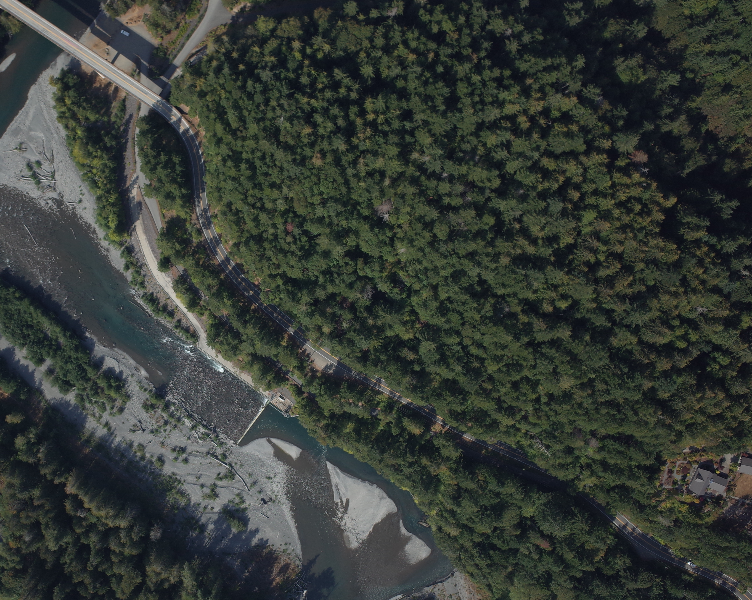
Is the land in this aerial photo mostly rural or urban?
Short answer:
rural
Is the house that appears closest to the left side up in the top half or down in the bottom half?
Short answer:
bottom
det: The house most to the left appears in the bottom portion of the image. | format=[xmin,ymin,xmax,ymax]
[687,468,728,496]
